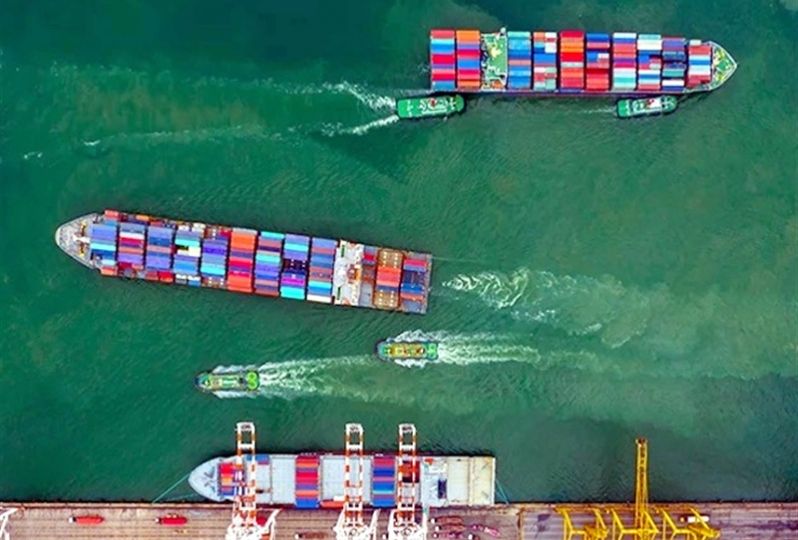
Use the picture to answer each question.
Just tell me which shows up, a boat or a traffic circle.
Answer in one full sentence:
I can see a boat in this picture.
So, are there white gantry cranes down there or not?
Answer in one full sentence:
Yes, the photo shows a white gantry crane.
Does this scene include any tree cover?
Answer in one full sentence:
No, the picture contains no tree cover.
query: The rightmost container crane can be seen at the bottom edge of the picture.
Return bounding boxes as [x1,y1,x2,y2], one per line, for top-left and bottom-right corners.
[657,507,724,540]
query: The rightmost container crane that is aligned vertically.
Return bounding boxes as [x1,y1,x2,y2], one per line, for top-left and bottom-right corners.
[609,437,659,540]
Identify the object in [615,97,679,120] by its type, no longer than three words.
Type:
boat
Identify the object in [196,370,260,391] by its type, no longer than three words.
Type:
boat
